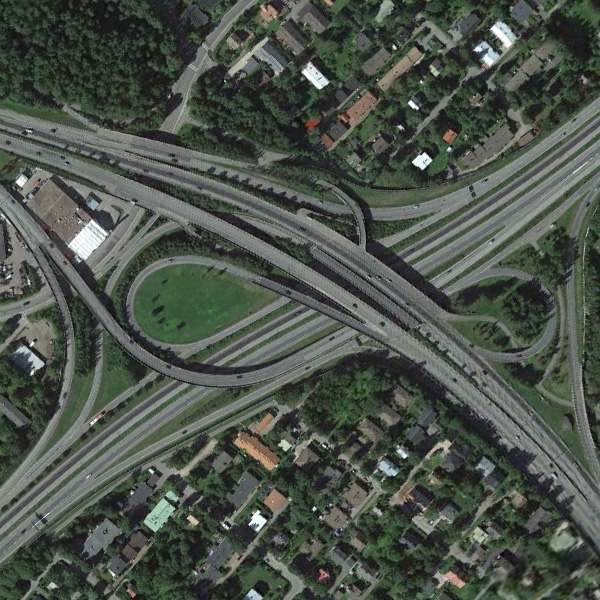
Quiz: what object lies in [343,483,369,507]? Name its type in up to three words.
house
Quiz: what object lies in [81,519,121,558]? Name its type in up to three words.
building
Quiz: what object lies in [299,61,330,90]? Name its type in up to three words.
building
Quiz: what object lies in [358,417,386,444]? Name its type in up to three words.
house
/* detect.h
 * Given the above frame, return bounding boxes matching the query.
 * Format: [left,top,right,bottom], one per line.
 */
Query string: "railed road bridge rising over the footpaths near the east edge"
[572,369,600,489]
